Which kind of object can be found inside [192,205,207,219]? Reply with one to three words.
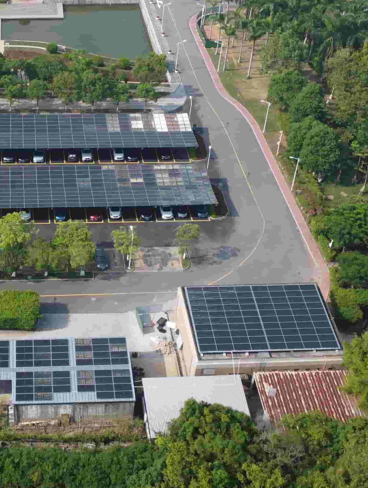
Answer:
vehicle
